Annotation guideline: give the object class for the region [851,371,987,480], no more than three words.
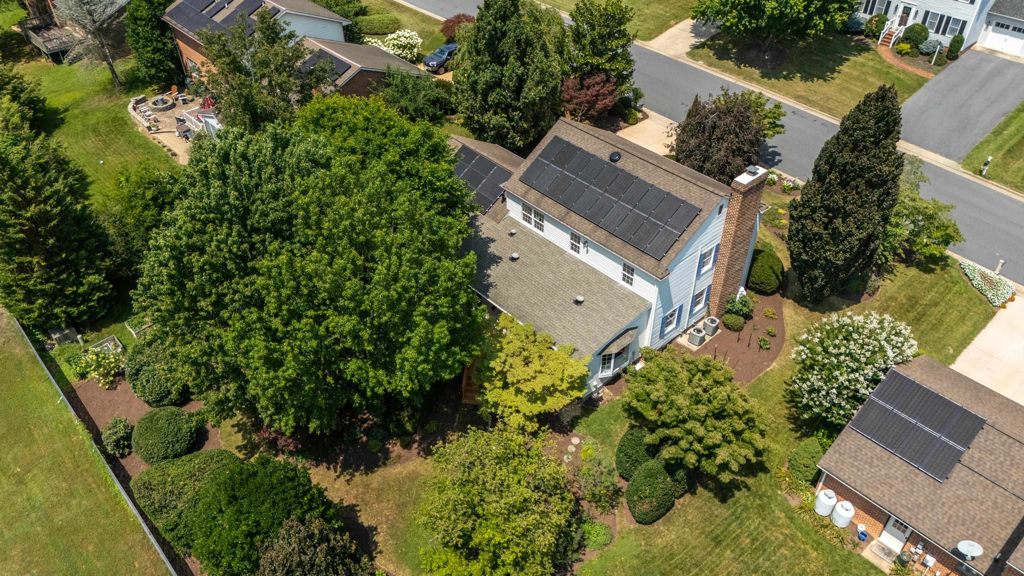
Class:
solar array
